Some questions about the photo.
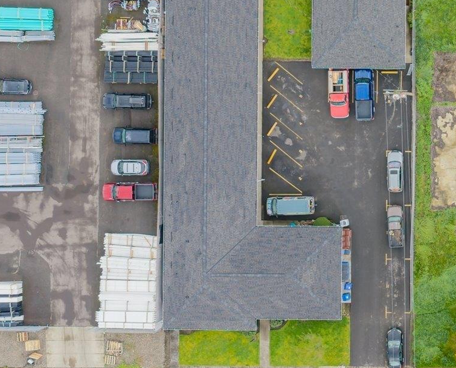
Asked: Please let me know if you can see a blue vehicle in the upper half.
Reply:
Yes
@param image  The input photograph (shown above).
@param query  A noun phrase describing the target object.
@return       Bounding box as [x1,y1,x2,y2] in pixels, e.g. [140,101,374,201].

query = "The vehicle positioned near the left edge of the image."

[0,76,36,97]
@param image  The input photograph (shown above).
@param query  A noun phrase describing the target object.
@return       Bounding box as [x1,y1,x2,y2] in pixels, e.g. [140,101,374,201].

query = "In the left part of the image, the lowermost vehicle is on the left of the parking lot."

[102,181,158,204]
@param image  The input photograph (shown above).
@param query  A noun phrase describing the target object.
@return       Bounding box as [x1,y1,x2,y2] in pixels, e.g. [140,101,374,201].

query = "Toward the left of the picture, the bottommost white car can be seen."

[111,157,153,178]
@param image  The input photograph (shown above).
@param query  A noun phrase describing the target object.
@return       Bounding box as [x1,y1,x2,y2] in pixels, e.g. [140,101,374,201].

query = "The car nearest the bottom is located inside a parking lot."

[384,326,405,368]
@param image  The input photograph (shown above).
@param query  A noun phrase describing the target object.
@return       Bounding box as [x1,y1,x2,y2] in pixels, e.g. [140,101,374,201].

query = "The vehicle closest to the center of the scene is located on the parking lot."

[266,196,317,219]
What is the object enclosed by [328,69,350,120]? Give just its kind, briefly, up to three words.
truck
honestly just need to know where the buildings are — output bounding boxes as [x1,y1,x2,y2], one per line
[311,0,408,69]
[165,0,343,331]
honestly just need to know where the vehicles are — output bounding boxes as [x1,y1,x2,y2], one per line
[103,89,155,112]
[266,196,317,219]
[384,151,405,194]
[102,181,158,204]
[328,69,350,120]
[111,157,153,178]
[384,326,405,368]
[0,76,36,97]
[352,69,375,121]
[112,126,158,146]
[385,205,405,250]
